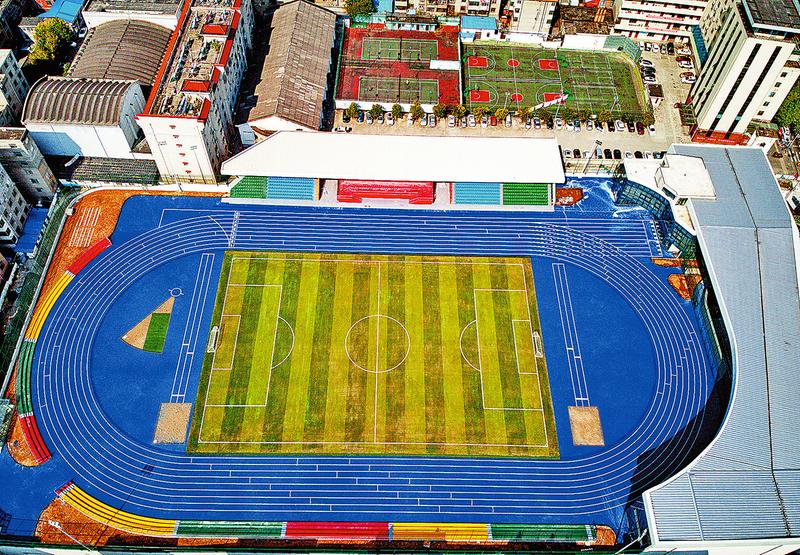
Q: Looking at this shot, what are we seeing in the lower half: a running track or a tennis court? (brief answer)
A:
running track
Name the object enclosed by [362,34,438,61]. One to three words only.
tennis court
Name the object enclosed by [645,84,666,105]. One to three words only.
shed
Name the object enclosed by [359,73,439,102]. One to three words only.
tennis court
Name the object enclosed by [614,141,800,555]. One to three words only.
building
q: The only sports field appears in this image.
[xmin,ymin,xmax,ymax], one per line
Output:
[184,251,561,457]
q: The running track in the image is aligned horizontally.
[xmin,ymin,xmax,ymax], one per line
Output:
[28,210,711,521]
